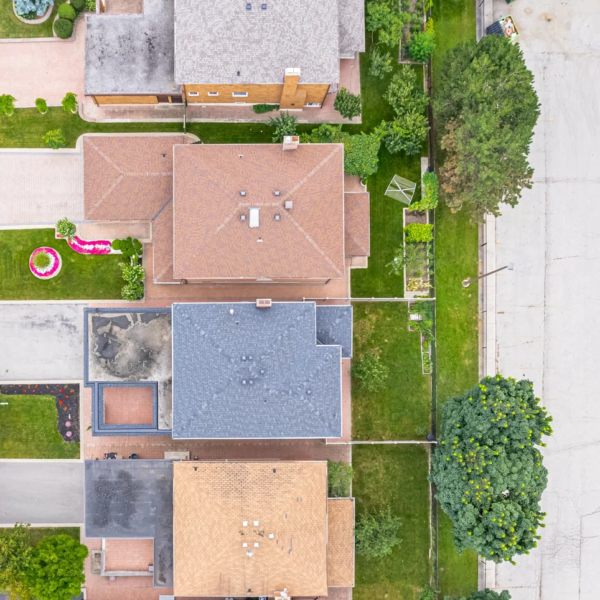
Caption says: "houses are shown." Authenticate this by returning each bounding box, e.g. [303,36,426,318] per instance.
[83,294,354,440]
[84,0,365,111]
[83,130,370,284]
[85,460,355,600]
